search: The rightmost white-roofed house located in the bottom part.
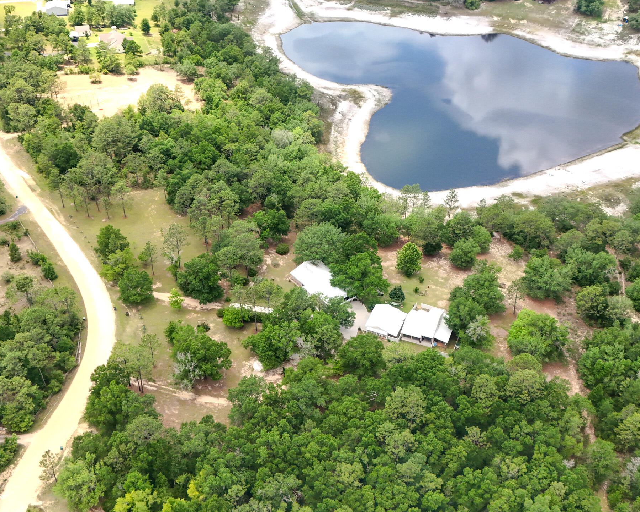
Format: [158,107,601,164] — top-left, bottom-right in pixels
[401,307,456,349]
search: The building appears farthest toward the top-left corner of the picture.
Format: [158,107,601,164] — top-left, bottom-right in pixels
[44,0,69,21]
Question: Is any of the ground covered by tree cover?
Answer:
Yes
